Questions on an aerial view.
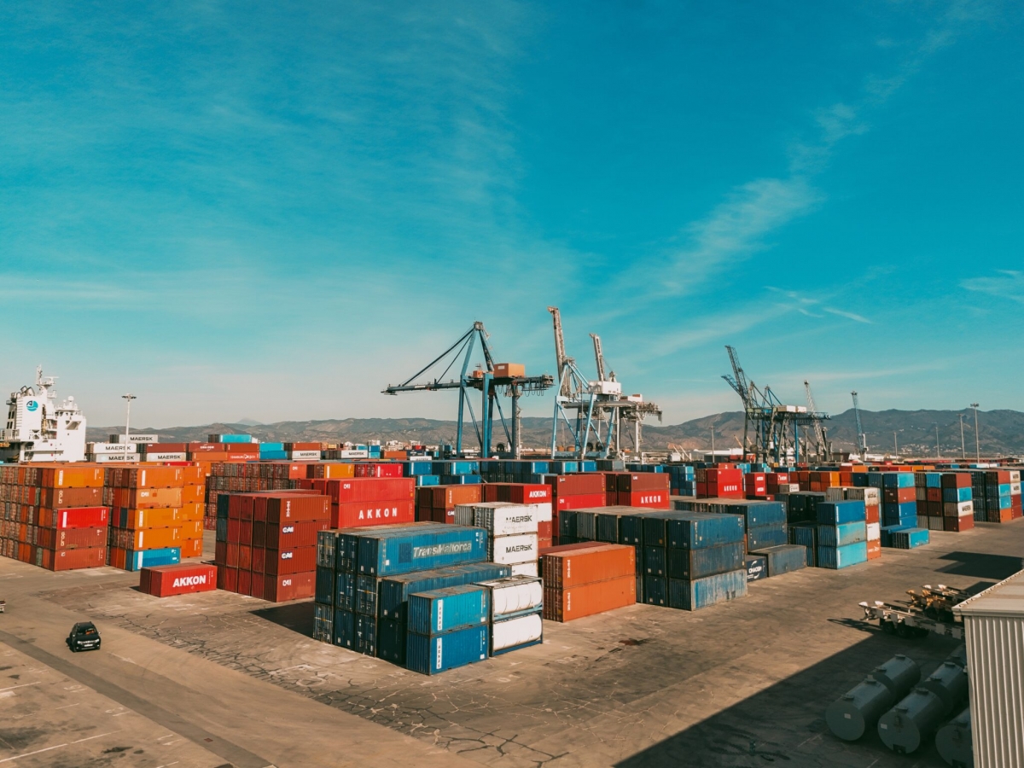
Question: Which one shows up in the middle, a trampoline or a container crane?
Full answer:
Looking in the middle, you will find a container crane.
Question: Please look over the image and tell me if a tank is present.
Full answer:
Yes, I can see a tank in this picture.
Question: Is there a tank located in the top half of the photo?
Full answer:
No, I can find no tank in the top half of the photo.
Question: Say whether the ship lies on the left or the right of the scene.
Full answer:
It is on the left.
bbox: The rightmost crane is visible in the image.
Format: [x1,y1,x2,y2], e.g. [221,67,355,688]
[851,392,871,466]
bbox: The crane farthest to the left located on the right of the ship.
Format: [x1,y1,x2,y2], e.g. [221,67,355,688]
[375,315,560,461]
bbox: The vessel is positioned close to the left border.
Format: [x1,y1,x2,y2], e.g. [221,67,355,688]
[0,366,89,462]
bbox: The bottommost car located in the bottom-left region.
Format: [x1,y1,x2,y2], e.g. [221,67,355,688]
[66,622,104,655]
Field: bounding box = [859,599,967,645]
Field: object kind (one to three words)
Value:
trailer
